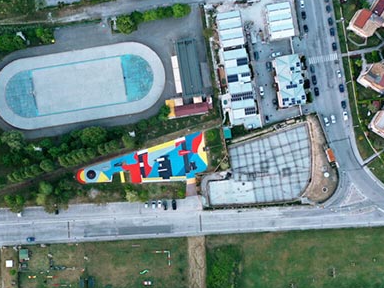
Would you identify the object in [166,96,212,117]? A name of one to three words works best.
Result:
building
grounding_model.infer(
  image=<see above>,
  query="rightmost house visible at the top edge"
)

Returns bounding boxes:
[345,0,384,39]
